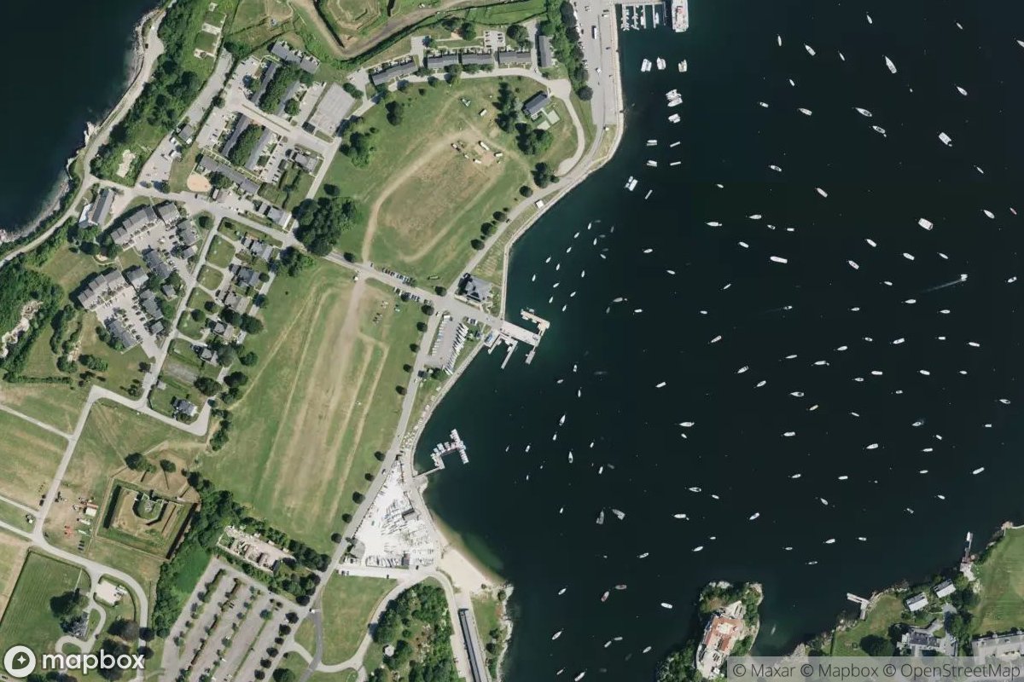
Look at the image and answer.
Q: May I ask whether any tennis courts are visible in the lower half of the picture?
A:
No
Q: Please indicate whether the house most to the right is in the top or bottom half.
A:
bottom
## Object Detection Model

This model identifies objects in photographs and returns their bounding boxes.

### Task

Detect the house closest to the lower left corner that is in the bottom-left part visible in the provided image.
[63,615,89,636]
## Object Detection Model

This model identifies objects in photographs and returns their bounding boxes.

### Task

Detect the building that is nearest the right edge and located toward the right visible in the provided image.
[972,630,1024,676]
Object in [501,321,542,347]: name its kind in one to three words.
pier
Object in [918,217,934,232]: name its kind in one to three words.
boat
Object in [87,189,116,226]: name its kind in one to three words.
building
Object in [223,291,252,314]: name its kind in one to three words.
house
